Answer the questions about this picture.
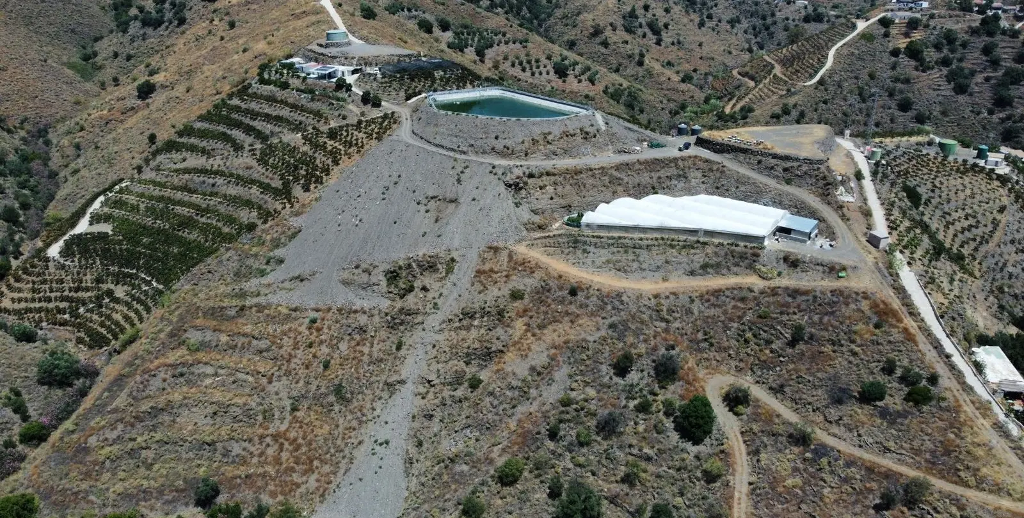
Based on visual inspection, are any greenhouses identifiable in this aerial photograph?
Yes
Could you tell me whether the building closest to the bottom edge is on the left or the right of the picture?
right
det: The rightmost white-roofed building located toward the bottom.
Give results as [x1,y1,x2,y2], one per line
[970,347,1024,397]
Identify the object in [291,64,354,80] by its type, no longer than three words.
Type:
house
